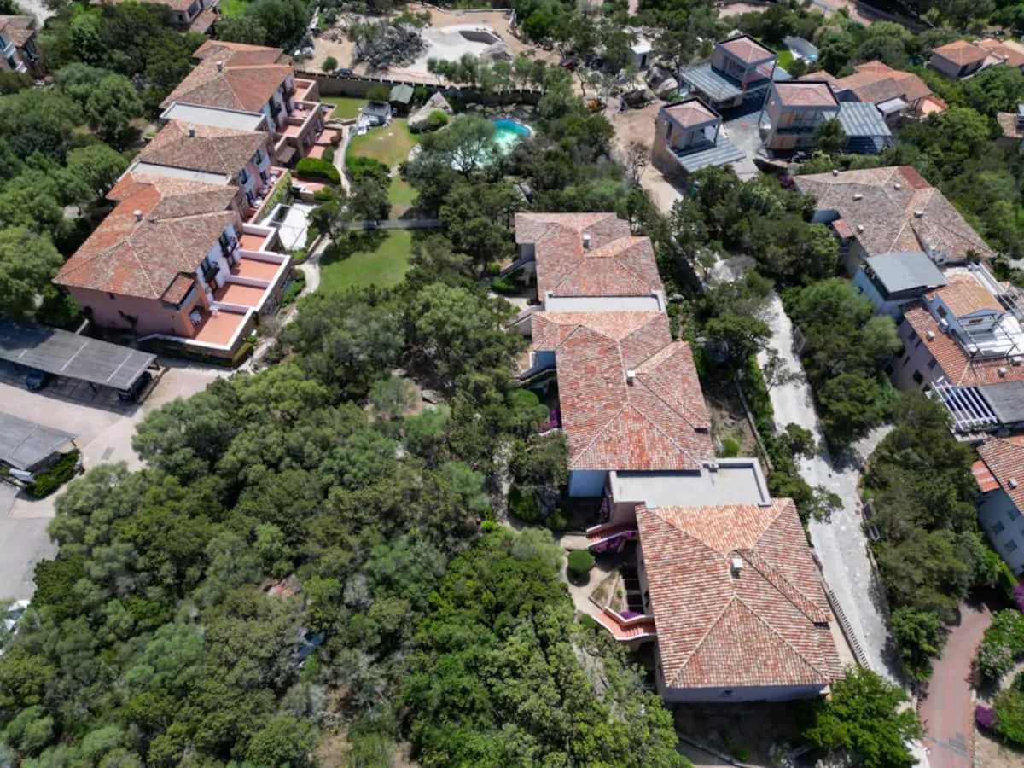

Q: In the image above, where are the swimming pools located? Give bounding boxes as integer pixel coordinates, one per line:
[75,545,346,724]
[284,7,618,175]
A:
[454,120,528,166]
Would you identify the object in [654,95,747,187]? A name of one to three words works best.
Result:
house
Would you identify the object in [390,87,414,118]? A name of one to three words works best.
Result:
shed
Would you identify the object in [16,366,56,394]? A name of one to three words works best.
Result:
car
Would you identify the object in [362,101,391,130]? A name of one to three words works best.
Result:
gazebo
